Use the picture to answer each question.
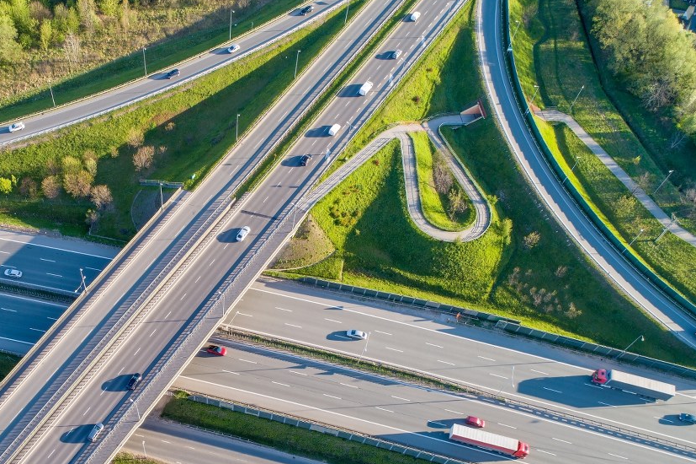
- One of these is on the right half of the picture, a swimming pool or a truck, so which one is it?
truck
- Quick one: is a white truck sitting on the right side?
Yes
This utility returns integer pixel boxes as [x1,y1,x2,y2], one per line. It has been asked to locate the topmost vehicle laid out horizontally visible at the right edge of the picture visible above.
[593,368,676,401]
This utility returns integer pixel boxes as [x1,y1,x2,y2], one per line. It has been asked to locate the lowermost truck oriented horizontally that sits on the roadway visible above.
[450,424,529,459]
